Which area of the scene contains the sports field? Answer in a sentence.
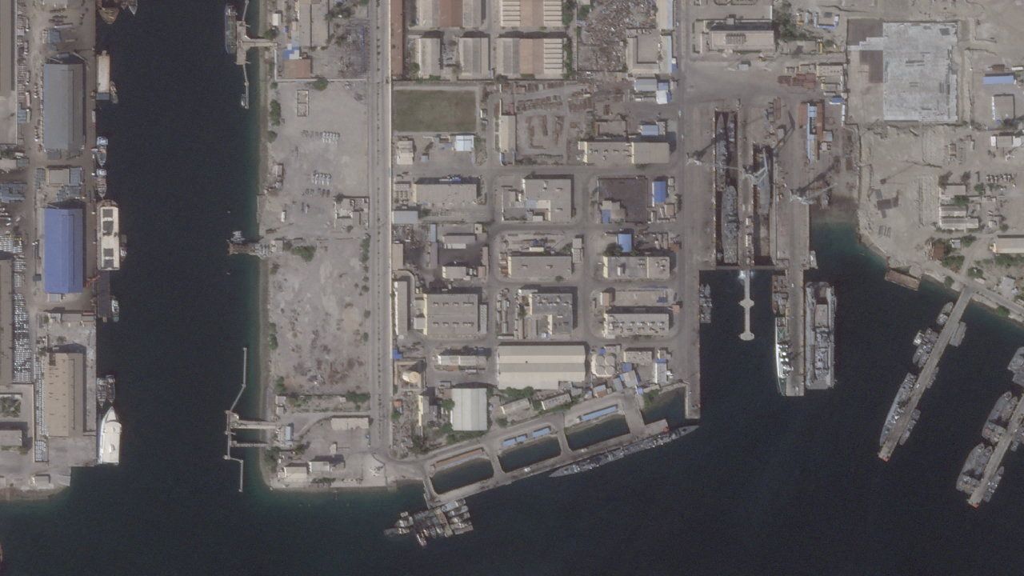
The sports field is located in the top region of the scene.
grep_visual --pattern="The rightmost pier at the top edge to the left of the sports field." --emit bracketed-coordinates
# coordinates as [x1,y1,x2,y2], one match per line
[234,0,277,109]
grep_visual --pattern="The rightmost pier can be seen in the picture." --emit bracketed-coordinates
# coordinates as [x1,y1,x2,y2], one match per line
[969,393,1024,508]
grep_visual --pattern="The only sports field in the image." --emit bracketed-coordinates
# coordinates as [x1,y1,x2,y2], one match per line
[394,86,480,134]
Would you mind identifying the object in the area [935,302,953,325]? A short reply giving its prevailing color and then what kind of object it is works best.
gray ship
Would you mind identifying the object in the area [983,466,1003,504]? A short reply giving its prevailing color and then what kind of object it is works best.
gray boat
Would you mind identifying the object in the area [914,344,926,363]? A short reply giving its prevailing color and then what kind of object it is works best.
gray boat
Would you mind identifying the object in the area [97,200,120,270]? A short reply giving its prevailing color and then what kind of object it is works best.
white ship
